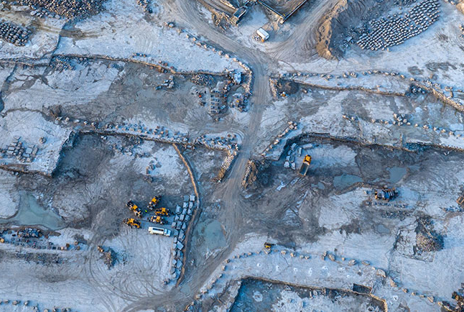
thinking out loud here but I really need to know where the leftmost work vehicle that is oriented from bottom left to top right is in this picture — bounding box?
[147,191,162,210]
